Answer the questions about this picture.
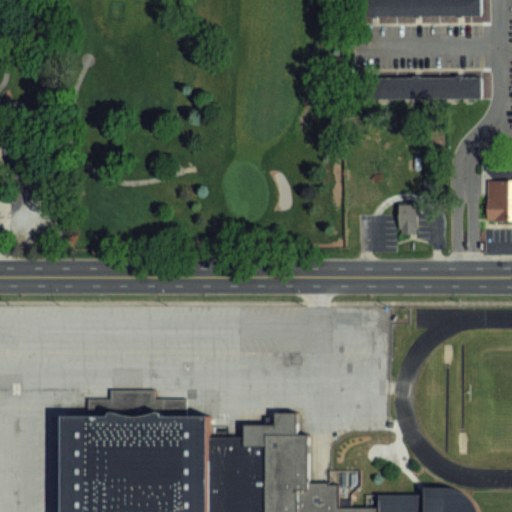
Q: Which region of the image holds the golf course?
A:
top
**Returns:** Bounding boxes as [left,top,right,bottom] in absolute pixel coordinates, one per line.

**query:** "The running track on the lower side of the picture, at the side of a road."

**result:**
[396,309,512,488]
